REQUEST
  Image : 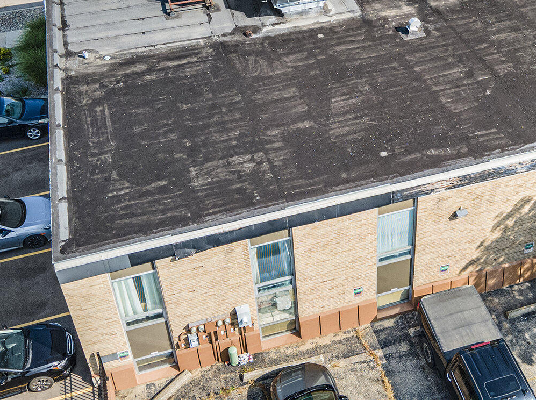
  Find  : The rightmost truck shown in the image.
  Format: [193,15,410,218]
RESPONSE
[416,286,536,400]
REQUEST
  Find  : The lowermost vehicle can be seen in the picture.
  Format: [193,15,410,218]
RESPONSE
[280,361,354,400]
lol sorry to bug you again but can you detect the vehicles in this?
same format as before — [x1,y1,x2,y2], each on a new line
[0,313,77,395]
[416,286,536,400]
[0,92,49,140]
[280,361,354,400]
[0,190,51,250]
